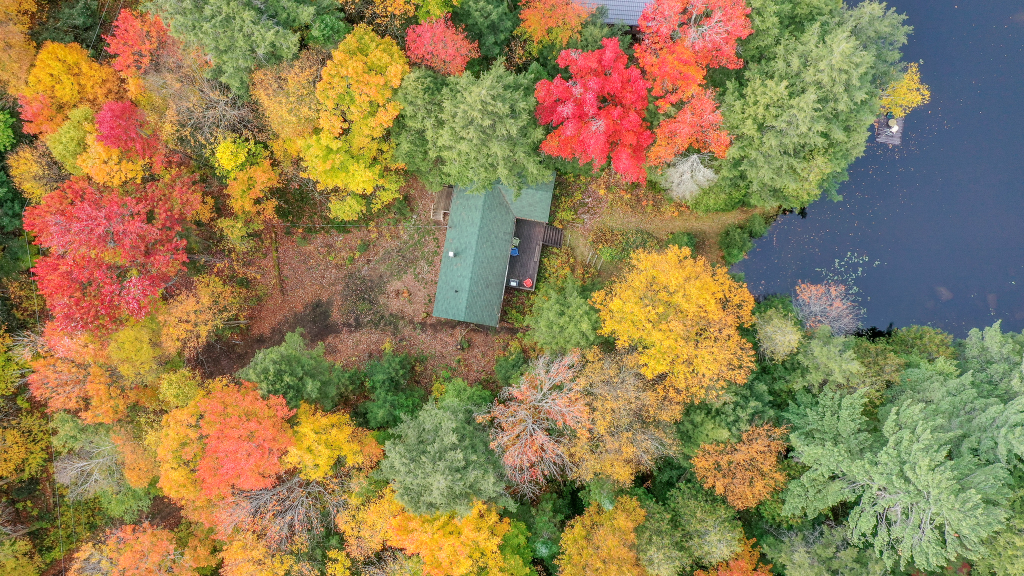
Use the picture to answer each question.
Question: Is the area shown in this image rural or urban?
rural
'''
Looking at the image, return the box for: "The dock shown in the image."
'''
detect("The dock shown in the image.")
[873,105,905,145]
